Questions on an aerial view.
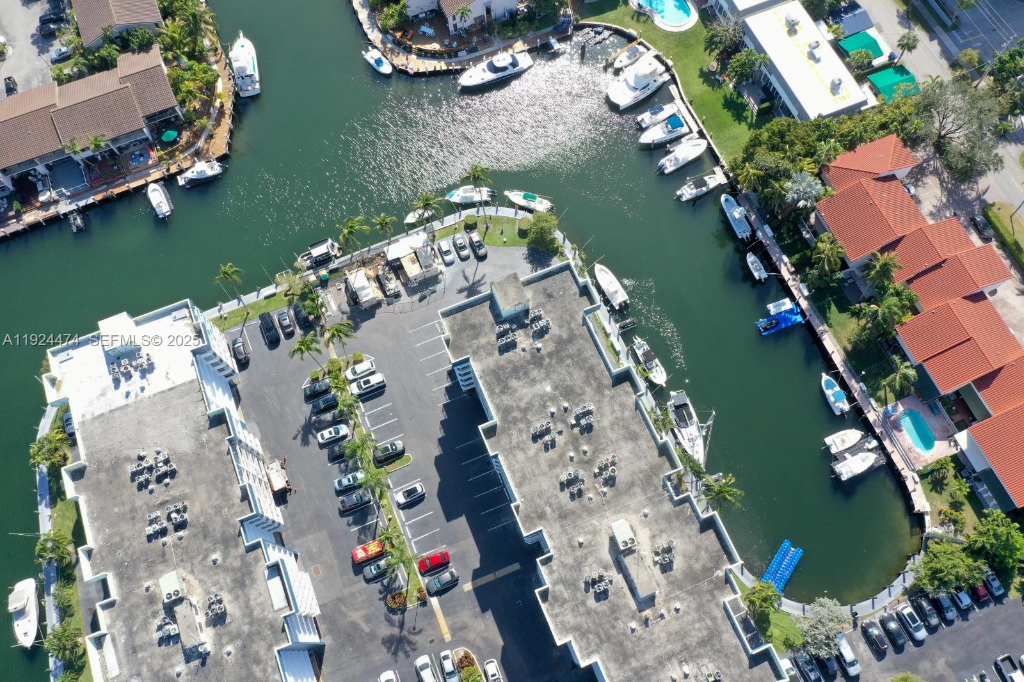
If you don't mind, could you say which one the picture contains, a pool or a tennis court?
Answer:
pool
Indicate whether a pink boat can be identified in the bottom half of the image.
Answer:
No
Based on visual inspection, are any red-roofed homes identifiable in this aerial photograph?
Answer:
Yes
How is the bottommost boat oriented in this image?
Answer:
up and down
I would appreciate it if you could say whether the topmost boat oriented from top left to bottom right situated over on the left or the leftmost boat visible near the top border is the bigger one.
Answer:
the leftmost boat visible near the top border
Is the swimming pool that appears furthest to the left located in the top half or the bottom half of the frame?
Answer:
top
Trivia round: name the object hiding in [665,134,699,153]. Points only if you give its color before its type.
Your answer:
white boat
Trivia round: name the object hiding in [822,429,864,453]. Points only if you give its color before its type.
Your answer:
white boat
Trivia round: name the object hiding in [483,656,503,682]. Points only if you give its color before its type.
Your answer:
white car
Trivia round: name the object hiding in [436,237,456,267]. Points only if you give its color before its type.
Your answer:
white car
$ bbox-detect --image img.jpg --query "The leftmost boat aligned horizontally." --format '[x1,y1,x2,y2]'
[182,159,227,179]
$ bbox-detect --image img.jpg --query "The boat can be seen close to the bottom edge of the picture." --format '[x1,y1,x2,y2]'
[3,570,44,648]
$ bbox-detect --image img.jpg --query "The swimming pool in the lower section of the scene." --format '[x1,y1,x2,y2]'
[899,407,939,454]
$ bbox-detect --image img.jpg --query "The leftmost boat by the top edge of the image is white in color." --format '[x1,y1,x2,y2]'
[232,28,263,106]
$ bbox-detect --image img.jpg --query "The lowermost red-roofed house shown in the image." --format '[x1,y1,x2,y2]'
[952,400,1024,510]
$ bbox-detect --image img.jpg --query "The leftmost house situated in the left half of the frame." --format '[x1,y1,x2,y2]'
[0,80,74,177]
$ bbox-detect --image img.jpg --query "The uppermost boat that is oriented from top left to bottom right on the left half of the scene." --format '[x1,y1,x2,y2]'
[364,46,391,75]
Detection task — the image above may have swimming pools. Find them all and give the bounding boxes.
[899,407,939,454]
[632,0,692,27]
